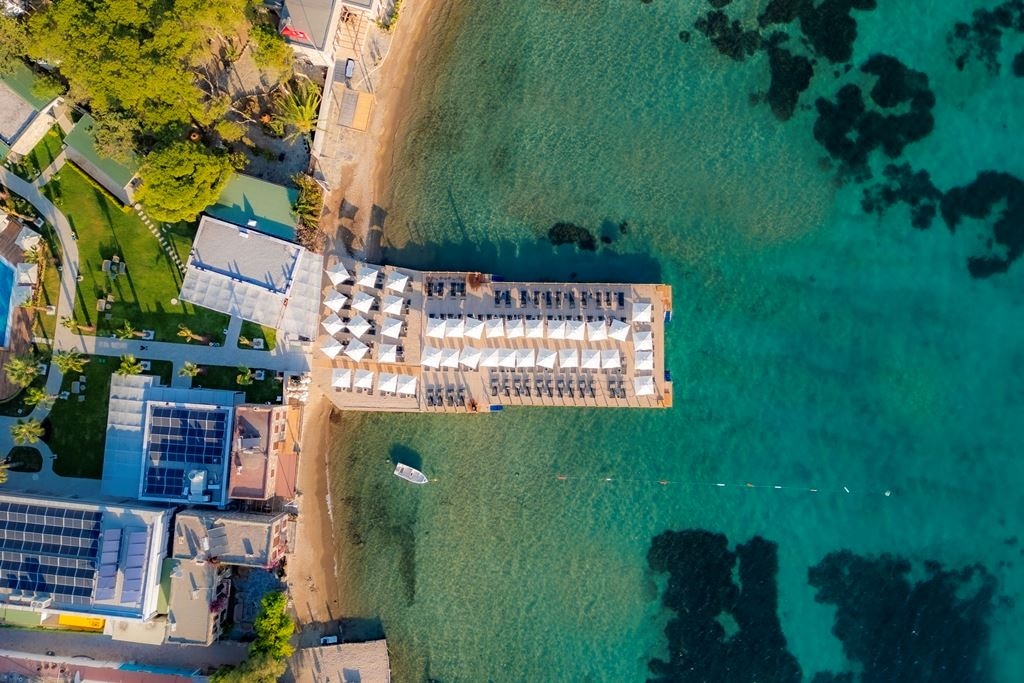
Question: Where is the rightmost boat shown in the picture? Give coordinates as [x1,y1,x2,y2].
[392,461,428,481]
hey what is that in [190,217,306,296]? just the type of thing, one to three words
building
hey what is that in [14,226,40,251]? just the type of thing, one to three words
umbrella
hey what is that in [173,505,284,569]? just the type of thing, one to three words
house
